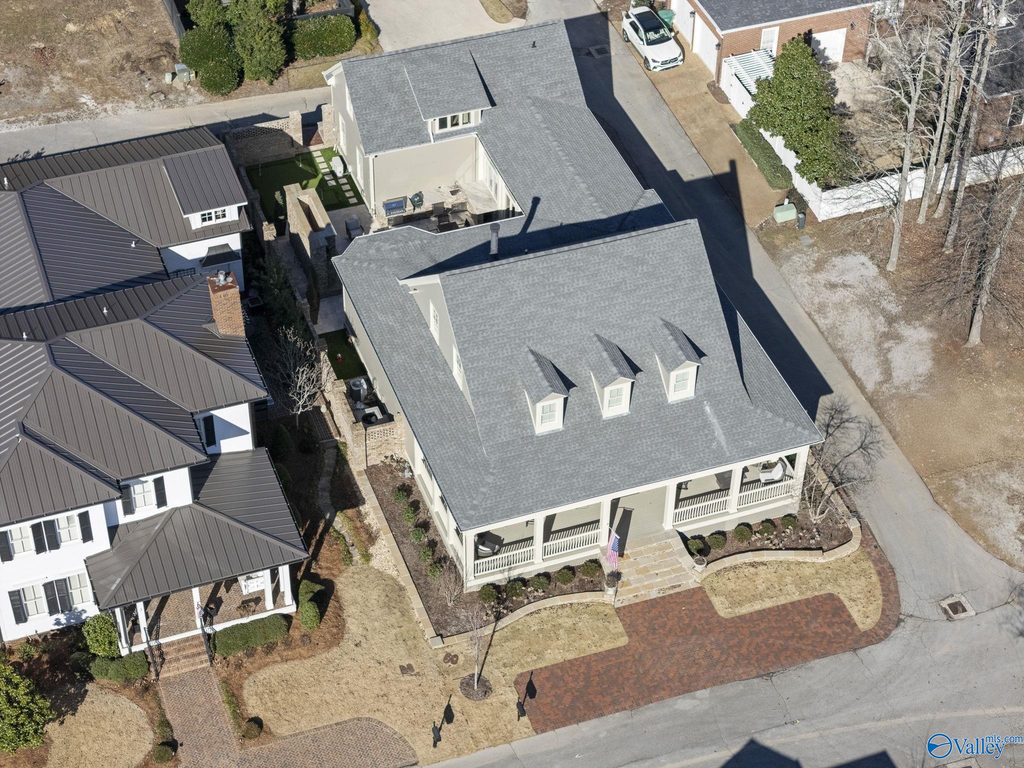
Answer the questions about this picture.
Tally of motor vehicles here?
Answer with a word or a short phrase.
1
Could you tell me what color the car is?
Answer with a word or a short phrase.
white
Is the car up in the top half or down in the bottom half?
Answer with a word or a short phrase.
top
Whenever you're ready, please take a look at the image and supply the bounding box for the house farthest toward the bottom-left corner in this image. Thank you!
[0,125,313,661]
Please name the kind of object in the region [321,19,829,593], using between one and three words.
house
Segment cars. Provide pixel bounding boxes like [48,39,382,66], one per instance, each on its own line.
[625,6,687,73]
